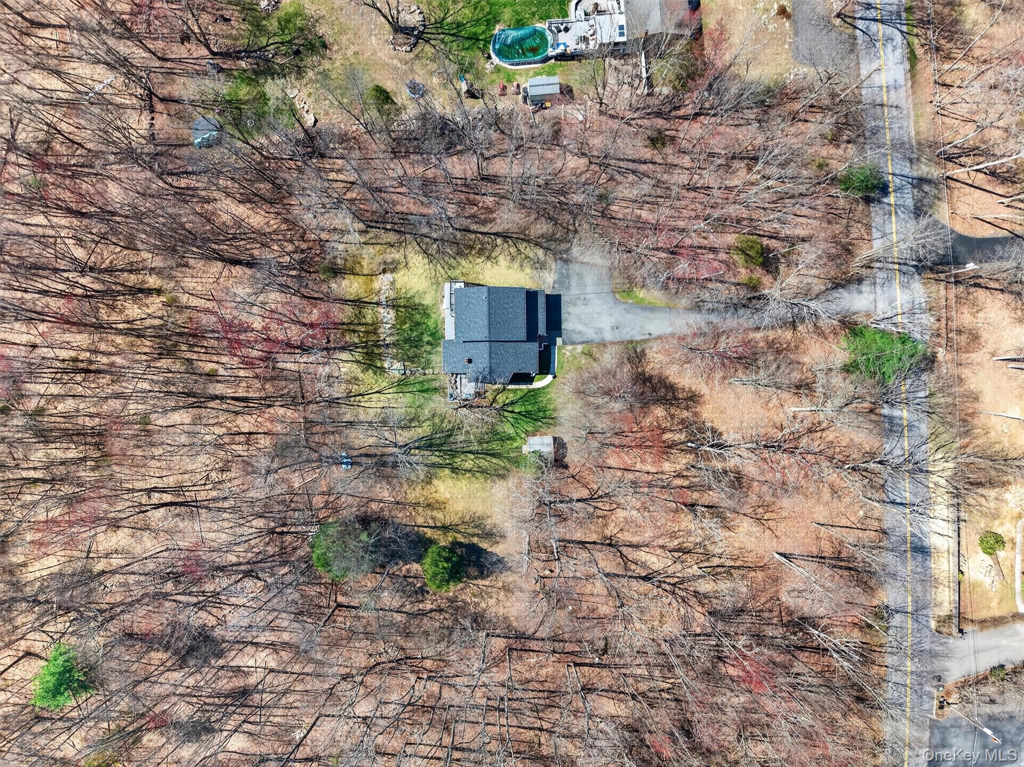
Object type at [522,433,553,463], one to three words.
shed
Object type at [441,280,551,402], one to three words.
house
